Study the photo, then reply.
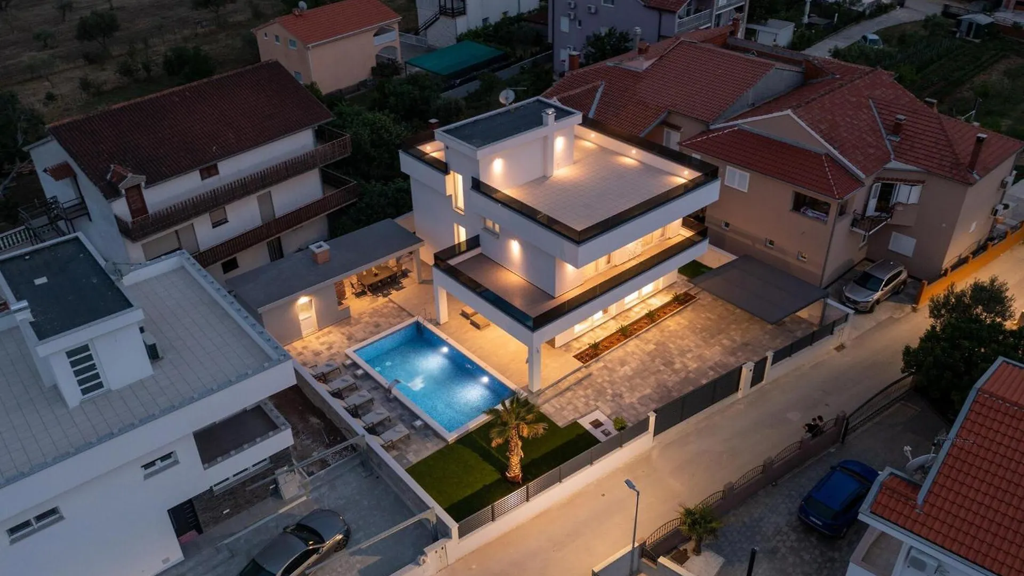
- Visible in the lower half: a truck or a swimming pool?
swimming pool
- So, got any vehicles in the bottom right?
Yes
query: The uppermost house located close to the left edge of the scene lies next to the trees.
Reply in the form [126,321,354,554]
[21,60,357,291]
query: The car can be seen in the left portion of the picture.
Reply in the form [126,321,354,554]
[247,511,348,576]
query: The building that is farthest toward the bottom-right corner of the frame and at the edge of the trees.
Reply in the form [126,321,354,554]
[837,351,1024,576]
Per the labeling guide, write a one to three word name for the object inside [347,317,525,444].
swimming pool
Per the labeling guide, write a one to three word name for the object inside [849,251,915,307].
car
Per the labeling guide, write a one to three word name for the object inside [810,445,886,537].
car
